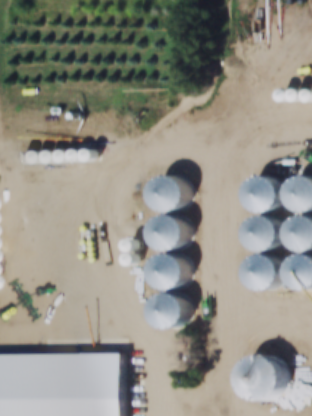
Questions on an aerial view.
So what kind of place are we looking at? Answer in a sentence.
The picture captures an industrial area.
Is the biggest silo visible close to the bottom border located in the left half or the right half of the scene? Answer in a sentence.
You can find the biggest silo visible close to the bottom border on the right side of the picture.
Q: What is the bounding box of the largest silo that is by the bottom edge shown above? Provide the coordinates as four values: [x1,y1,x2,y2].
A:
[230,350,290,400]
